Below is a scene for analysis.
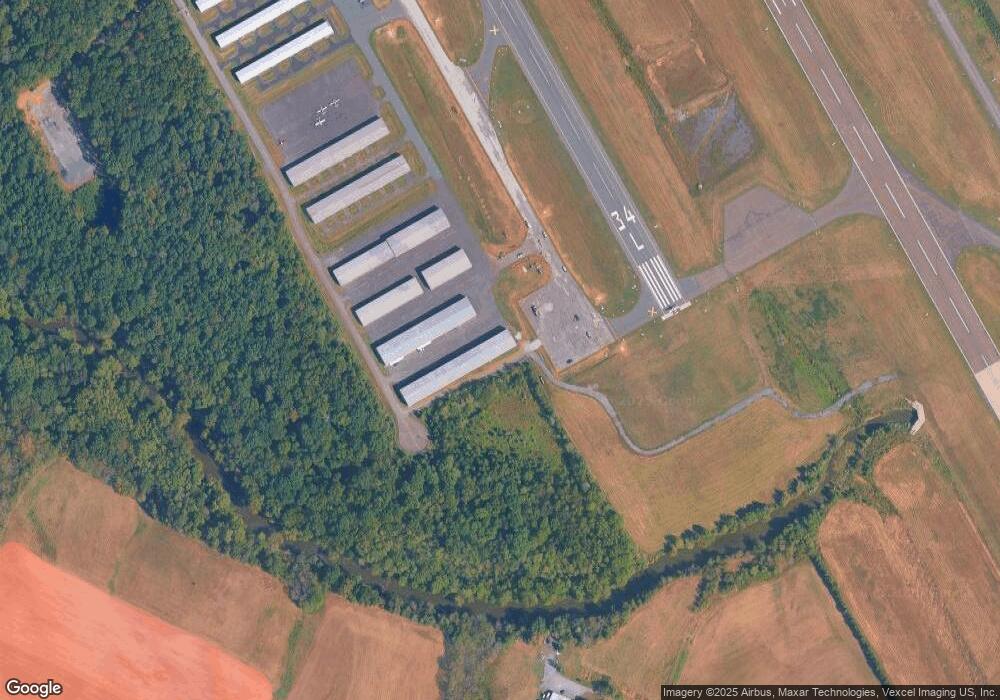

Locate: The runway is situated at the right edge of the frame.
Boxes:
[762,0,1000,425]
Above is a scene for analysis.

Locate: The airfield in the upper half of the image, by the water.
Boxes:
[175,0,1000,453]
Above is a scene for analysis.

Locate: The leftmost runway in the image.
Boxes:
[482,0,692,321]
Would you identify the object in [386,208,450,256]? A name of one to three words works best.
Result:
hangar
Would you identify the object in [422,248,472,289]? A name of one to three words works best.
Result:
hangar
